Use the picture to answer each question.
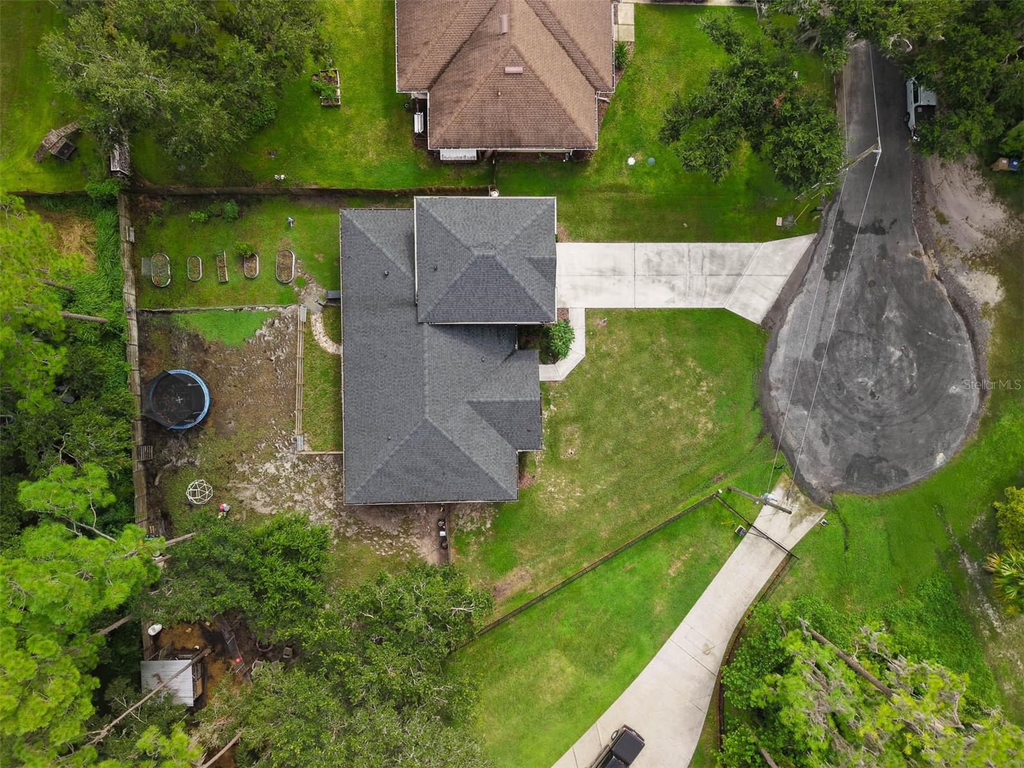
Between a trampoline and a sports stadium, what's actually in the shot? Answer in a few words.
trampoline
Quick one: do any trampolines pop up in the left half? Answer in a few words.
Yes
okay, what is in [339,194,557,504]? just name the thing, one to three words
house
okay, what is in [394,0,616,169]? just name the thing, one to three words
house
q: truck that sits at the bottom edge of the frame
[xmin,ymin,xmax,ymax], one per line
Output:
[591,722,645,768]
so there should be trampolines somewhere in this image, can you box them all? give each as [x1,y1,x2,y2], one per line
[143,369,209,430]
